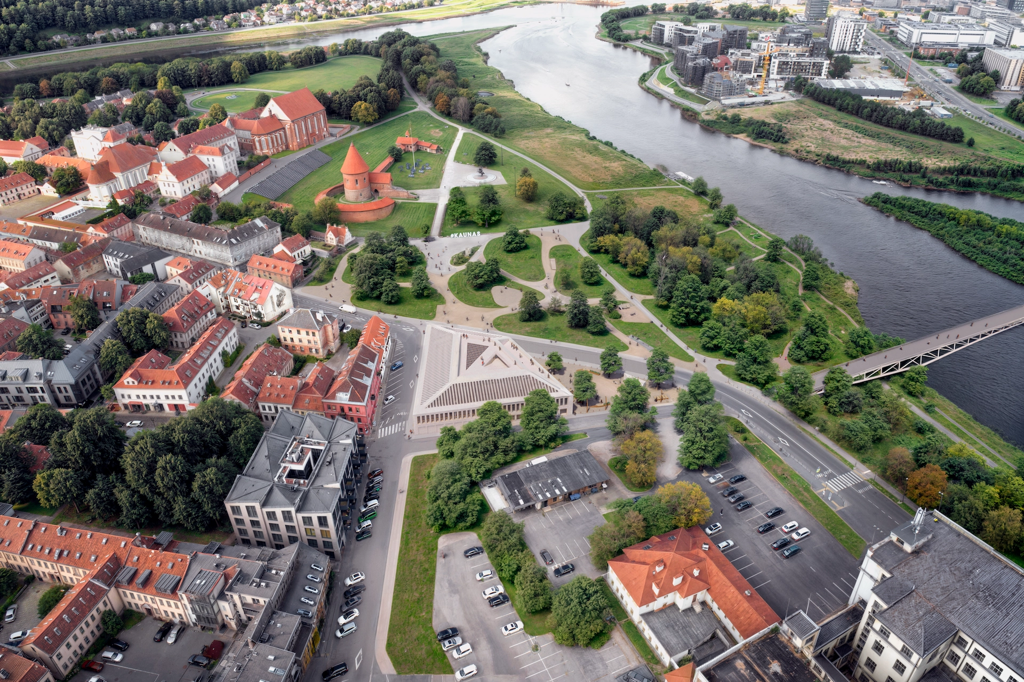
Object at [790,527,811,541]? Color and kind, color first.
white car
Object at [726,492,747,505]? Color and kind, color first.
gray vehicle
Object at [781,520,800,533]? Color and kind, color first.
white vehicle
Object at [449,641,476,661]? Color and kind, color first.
white car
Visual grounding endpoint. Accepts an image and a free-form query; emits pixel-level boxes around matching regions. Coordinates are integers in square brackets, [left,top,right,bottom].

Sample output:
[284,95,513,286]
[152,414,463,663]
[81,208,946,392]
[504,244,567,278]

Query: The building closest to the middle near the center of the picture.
[413,323,574,432]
